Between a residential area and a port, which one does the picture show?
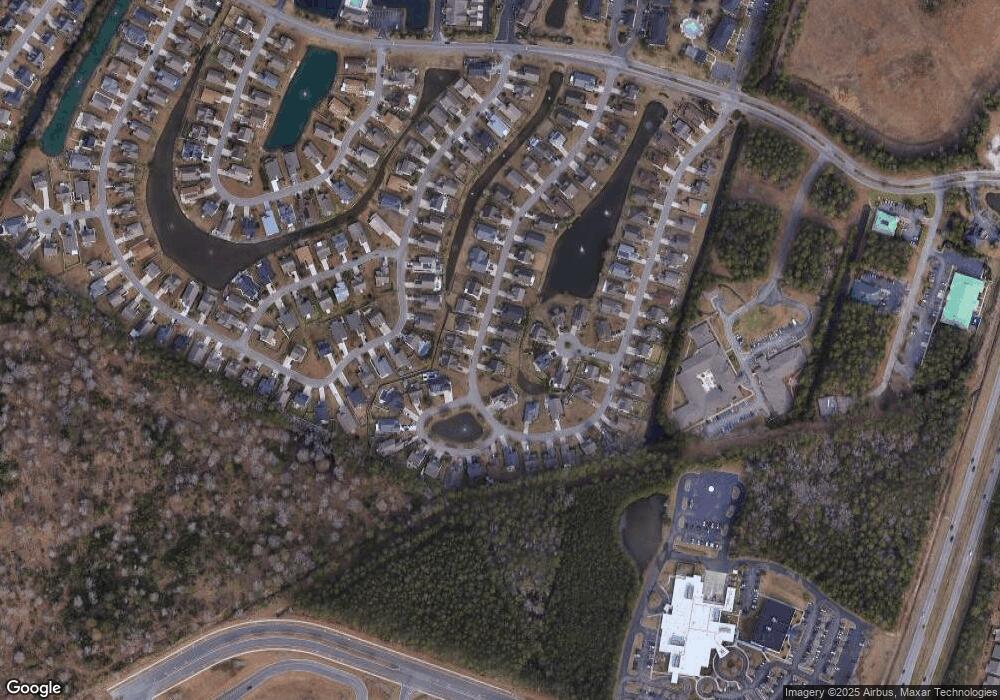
residential area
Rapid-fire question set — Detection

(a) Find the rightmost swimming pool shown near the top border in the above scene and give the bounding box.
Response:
[682,20,702,37]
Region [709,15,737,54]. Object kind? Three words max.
building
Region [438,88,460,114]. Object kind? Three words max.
house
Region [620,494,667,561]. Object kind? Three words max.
pond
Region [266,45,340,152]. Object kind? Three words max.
pond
